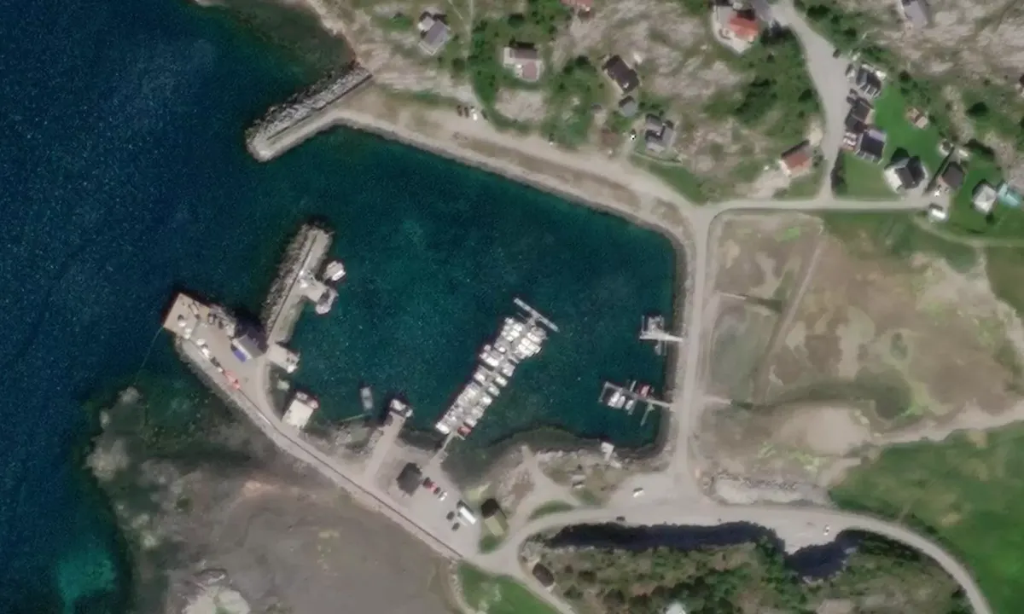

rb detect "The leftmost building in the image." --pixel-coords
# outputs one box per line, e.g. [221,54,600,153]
[235,324,271,360]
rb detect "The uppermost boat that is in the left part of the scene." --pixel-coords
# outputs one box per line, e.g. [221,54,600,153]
[322,265,340,280]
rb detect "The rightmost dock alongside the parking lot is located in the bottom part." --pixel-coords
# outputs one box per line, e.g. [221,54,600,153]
[452,315,536,439]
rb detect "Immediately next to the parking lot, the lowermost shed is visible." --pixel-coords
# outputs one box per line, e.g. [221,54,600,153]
[481,508,507,537]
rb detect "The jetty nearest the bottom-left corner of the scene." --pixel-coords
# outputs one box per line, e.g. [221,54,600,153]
[164,293,209,338]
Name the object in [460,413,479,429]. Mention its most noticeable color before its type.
white boat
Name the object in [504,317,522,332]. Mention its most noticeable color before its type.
white boat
